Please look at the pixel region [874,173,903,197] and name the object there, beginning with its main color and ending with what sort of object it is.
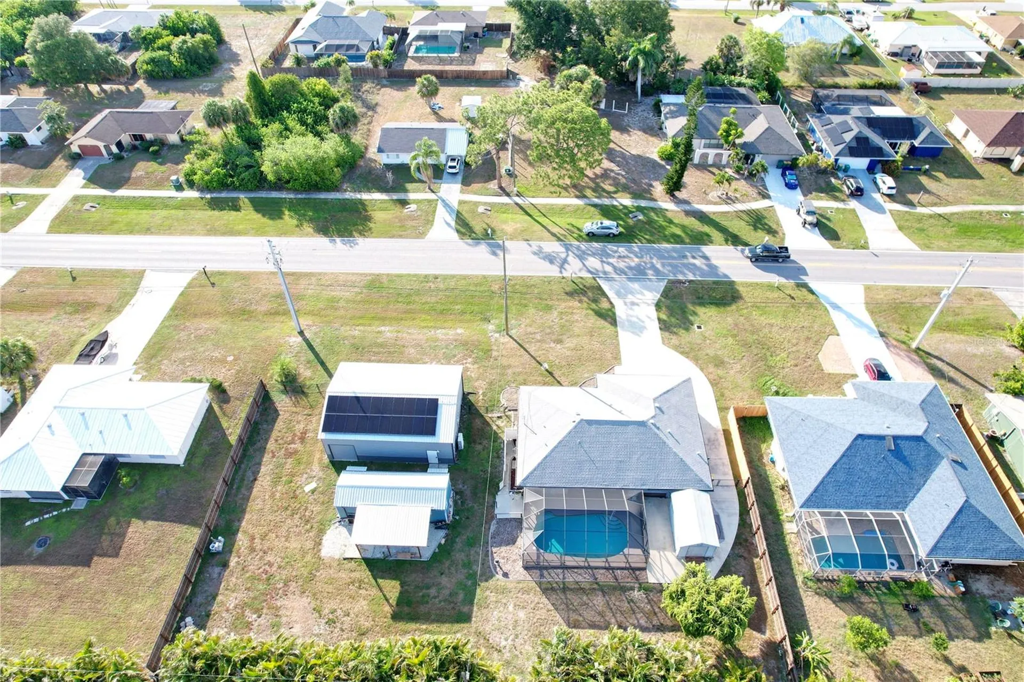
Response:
white car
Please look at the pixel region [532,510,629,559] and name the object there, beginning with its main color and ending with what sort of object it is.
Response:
blue swimming pool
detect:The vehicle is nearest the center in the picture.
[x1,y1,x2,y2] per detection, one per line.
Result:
[583,219,621,238]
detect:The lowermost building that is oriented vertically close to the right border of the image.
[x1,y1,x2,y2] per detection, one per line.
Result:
[984,393,1024,493]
